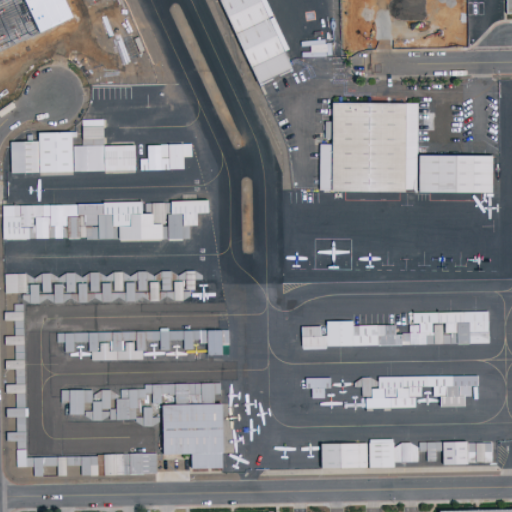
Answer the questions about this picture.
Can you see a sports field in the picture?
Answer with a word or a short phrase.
No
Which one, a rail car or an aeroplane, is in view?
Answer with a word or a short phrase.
aeroplane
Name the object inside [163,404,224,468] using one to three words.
hangar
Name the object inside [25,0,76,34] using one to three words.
building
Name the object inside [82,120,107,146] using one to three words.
building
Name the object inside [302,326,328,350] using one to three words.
hangar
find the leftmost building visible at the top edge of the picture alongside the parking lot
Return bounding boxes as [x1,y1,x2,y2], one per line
[220,0,292,86]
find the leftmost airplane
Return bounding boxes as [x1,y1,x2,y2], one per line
[28,179,44,202]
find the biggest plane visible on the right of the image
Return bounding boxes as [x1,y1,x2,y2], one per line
[318,240,350,269]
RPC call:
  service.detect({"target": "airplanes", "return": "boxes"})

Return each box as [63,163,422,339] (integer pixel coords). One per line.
[186,342,207,356]
[257,402,274,425]
[192,284,216,302]
[473,195,489,213]
[484,196,502,220]
[166,344,188,359]
[144,344,166,359]
[230,454,250,470]
[301,444,320,458]
[230,430,244,452]
[70,344,92,360]
[468,254,490,270]
[286,254,308,269]
[344,396,366,410]
[226,385,241,407]
[333,380,354,394]
[417,390,439,405]
[320,392,343,409]
[318,240,350,269]
[242,394,256,415]
[248,418,262,442]
[227,407,242,429]
[274,444,296,460]
[28,179,44,202]
[358,254,382,270]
